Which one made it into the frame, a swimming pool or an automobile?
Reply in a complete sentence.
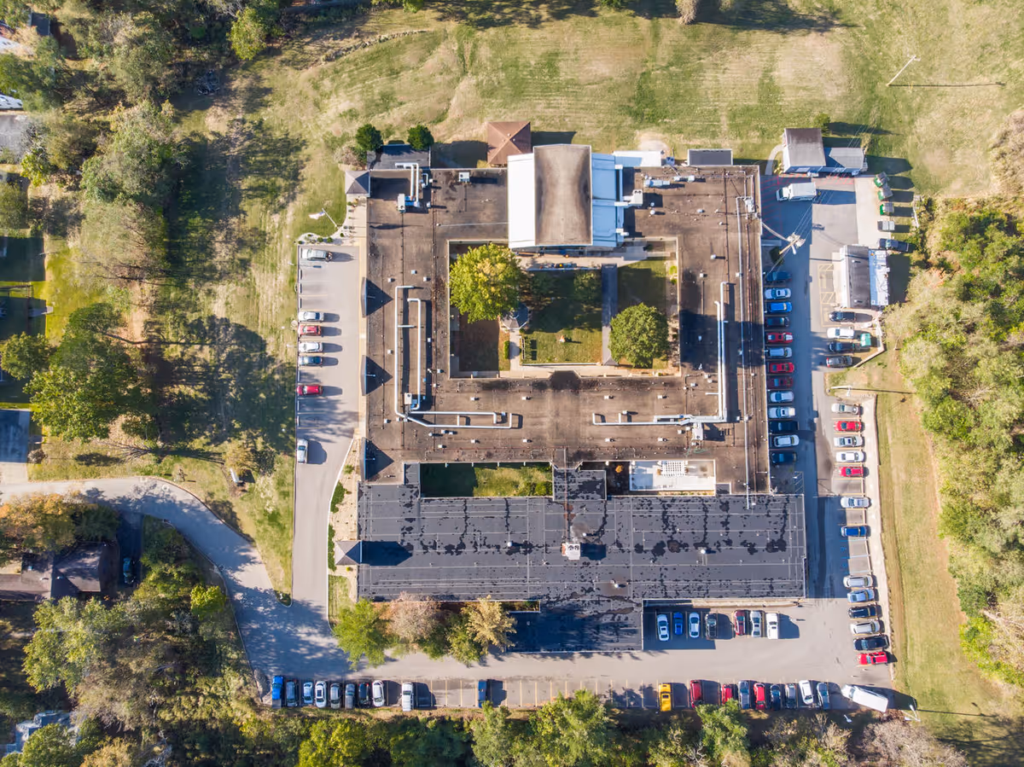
Visible in the photo is an automobile.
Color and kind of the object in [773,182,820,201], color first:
white vehicle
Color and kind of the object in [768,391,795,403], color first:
blue vehicle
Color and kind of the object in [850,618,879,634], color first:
white car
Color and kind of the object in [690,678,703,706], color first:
red vehicle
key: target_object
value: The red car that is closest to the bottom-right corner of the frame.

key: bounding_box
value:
[858,651,886,666]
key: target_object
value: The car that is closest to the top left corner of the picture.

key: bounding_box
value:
[303,248,333,260]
